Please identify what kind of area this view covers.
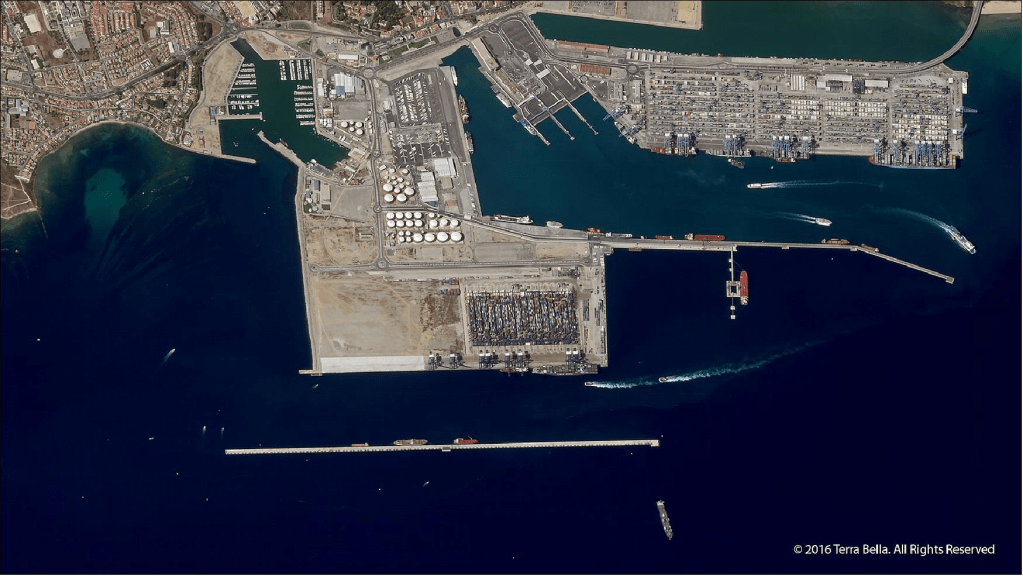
port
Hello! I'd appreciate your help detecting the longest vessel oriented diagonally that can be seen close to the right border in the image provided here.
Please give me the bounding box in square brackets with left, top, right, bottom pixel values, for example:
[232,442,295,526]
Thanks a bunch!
[951,226,976,253]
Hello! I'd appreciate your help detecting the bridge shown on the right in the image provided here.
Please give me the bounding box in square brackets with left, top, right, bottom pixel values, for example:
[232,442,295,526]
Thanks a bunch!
[880,0,982,74]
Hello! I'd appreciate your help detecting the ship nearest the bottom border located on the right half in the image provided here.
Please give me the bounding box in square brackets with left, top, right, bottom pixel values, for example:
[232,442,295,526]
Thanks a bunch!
[657,501,671,540]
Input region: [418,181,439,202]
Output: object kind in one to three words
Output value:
building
